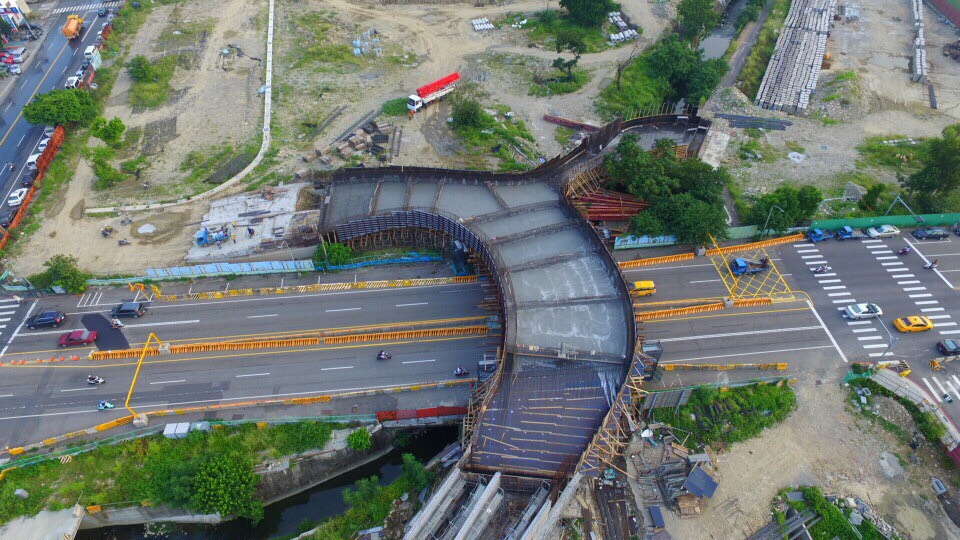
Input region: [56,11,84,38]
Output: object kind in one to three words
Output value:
truck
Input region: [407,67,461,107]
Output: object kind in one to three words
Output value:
truck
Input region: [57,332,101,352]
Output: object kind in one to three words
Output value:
car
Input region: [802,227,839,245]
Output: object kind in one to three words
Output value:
vehicle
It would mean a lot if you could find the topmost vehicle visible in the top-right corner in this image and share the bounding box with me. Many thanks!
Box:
[818,46,837,68]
